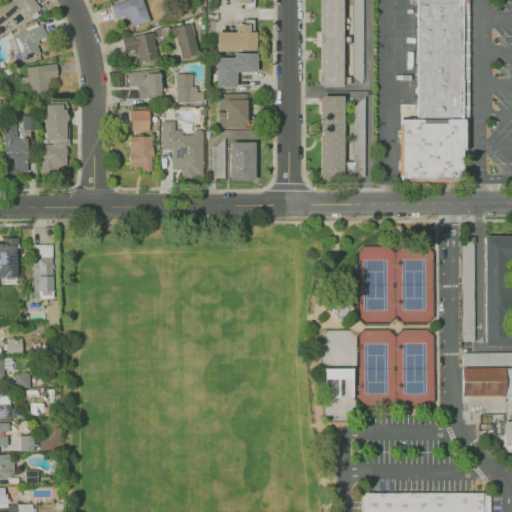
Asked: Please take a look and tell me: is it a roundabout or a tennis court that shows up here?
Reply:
tennis court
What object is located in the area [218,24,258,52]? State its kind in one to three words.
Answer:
house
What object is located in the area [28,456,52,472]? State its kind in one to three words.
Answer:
swimming pool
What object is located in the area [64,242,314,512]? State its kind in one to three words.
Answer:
sports field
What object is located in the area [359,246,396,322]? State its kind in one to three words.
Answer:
tennis court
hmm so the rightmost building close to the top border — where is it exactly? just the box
[416,0,467,118]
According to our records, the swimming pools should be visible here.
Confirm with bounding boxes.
[184,64,205,84]
[33,490,52,498]
[0,42,10,62]
[175,109,198,122]
[28,456,52,472]
[29,312,46,320]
